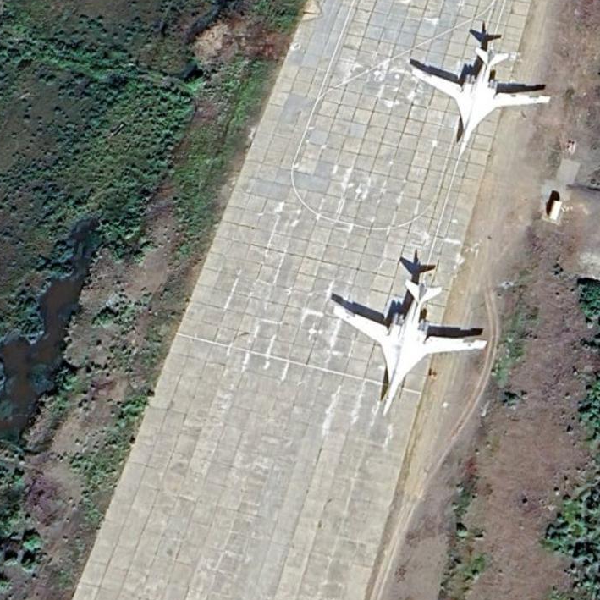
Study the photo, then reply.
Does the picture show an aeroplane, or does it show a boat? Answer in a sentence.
There is an aeroplane in the scene.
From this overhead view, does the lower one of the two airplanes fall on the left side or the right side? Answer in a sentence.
The lower one of the two airplanes sits on the right side.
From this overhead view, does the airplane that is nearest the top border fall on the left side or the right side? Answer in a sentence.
It is on the right.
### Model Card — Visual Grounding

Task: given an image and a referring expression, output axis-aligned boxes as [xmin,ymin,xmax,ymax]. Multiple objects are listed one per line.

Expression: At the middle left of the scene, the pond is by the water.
[0,216,99,442]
